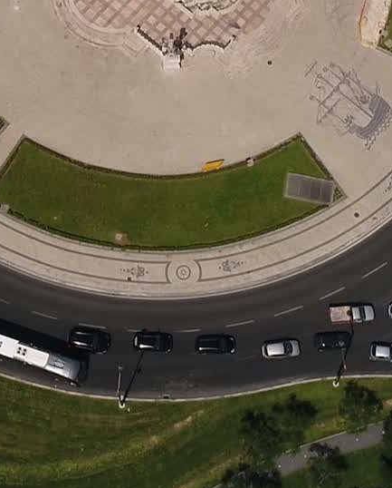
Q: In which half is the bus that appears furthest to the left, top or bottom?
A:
bottom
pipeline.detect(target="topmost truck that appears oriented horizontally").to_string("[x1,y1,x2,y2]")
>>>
[331,303,376,325]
